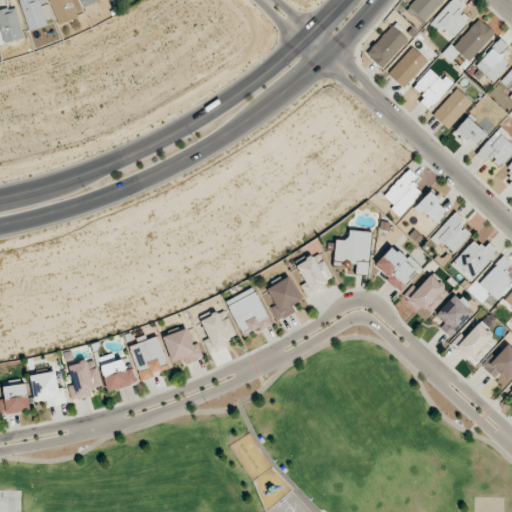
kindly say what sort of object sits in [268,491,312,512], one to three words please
basketball court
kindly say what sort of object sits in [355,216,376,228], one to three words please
swimming pool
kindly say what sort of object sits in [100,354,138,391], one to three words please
house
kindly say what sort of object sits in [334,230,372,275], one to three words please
house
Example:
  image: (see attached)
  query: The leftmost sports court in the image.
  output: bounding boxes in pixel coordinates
[230,433,272,480]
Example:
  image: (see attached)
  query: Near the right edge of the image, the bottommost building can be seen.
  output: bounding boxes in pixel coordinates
[482,342,512,385]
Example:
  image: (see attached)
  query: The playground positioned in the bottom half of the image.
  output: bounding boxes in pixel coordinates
[254,468,292,512]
